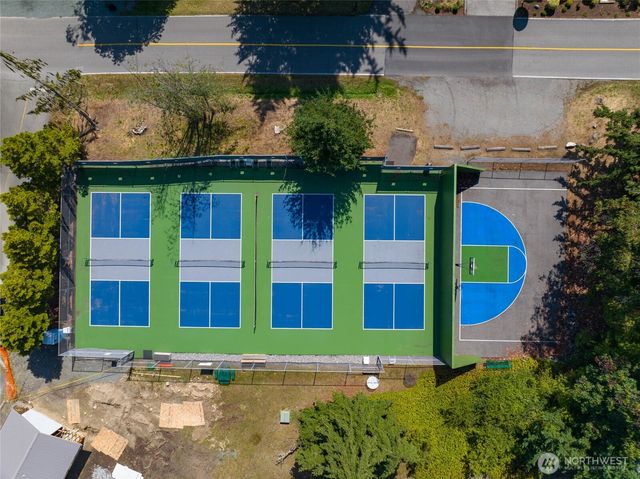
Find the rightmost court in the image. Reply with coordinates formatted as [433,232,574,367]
[456,171,569,358]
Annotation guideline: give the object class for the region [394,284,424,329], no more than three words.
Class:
sports court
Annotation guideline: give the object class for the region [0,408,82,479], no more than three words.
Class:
house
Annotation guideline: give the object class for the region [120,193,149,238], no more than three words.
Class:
sports court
